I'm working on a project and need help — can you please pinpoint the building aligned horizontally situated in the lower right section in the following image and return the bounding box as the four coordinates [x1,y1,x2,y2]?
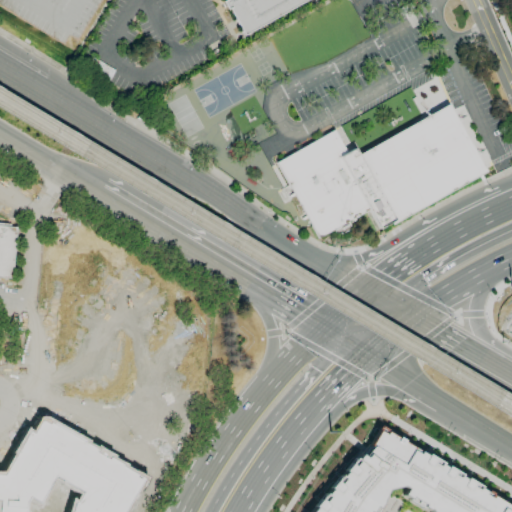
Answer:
[309,426,512,512]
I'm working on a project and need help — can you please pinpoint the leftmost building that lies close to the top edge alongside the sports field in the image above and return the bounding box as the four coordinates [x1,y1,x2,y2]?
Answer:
[226,0,308,36]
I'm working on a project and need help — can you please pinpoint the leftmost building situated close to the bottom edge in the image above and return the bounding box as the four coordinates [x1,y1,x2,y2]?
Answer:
[0,416,149,512]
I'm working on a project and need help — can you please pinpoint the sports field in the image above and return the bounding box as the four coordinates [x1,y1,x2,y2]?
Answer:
[270,0,371,74]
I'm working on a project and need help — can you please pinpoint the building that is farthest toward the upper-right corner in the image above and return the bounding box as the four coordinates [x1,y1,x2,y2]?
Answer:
[361,104,484,219]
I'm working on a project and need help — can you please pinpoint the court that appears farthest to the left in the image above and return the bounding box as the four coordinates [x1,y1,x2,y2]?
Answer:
[170,95,204,136]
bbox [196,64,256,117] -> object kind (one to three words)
basketball court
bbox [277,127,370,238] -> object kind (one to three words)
building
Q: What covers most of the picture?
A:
paved ground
